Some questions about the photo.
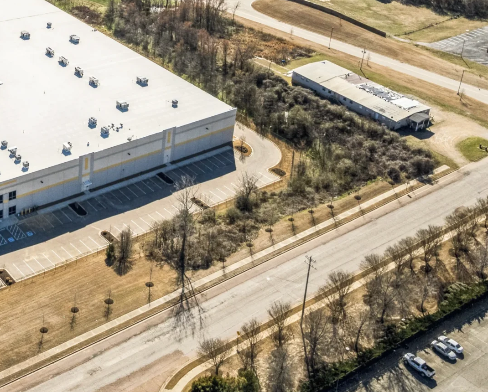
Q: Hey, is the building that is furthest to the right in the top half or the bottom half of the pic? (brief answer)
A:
top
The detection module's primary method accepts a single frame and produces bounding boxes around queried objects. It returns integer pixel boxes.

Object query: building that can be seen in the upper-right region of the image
[292,64,434,132]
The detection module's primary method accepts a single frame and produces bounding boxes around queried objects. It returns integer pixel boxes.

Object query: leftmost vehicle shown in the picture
[402,356,438,374]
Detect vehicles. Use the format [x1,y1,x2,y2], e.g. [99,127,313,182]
[431,343,458,357]
[438,337,465,351]
[402,356,438,374]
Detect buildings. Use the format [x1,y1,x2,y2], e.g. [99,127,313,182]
[0,0,237,220]
[292,64,434,132]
